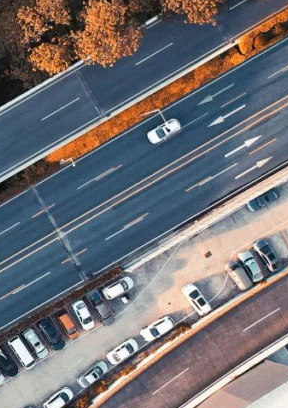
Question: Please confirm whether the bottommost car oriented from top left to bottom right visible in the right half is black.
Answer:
No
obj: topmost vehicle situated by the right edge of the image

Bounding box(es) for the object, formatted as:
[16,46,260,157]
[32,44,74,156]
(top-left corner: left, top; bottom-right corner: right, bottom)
[244,188,278,213]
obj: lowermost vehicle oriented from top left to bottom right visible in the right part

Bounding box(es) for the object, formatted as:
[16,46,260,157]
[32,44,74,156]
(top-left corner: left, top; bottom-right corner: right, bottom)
[181,283,209,316]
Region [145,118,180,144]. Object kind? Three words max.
car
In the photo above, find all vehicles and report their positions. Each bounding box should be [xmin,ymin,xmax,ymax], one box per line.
[55,308,79,339]
[37,316,64,349]
[69,297,95,331]
[0,344,18,378]
[138,314,172,340]
[41,386,73,408]
[87,289,115,324]
[4,330,34,370]
[22,326,48,359]
[244,188,278,213]
[74,361,107,388]
[105,338,138,364]
[222,259,252,292]
[181,283,209,316]
[235,249,263,283]
[99,275,133,300]
[145,118,180,144]
[250,238,279,271]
